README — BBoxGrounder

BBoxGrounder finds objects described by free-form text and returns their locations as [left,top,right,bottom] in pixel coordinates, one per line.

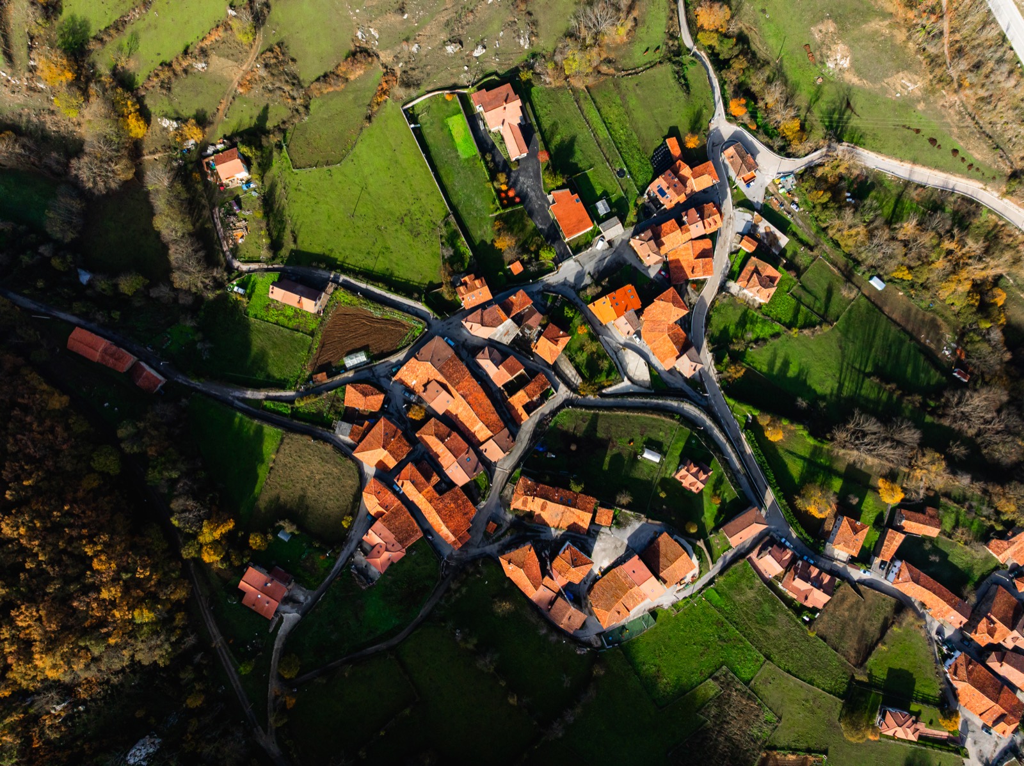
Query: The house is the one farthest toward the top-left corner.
[214,148,249,186]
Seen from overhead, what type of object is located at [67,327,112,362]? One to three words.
barn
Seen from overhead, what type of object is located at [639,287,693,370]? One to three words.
house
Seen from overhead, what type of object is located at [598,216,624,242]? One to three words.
building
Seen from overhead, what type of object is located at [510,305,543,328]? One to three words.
shed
